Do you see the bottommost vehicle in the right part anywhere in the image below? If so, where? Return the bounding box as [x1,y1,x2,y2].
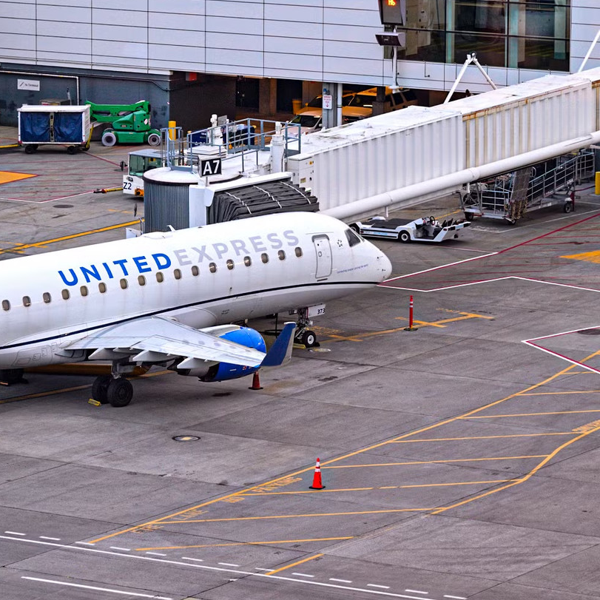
[357,209,488,246]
